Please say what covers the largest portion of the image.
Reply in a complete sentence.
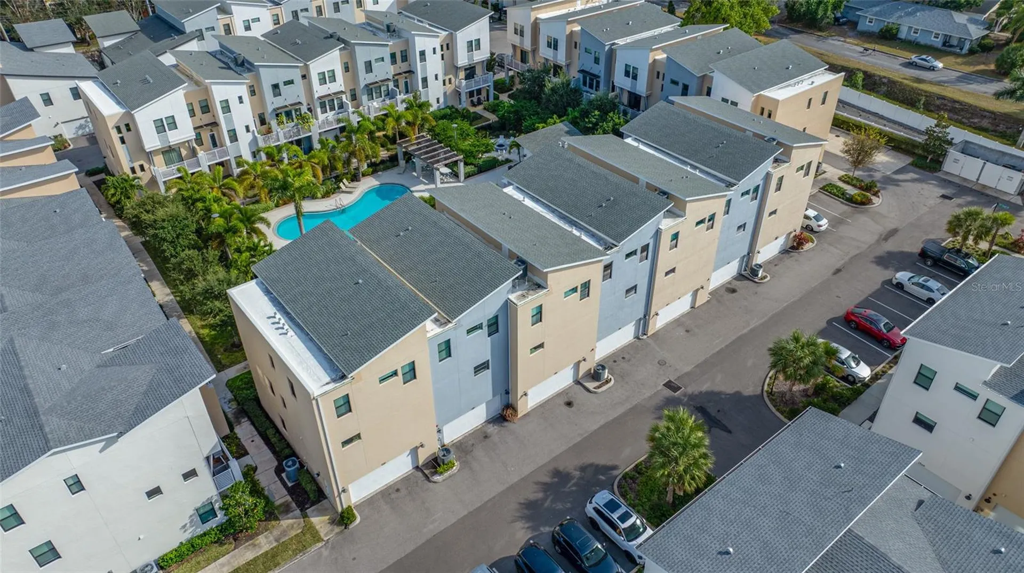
The scene is dominated by buildings.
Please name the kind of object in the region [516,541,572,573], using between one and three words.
car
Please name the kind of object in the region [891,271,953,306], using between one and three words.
car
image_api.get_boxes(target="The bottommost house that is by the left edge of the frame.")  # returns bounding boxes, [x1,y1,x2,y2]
[0,182,245,573]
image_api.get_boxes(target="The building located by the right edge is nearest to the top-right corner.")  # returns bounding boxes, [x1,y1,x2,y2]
[823,0,1004,56]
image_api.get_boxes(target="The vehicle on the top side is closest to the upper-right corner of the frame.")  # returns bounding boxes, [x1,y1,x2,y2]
[908,56,943,70]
